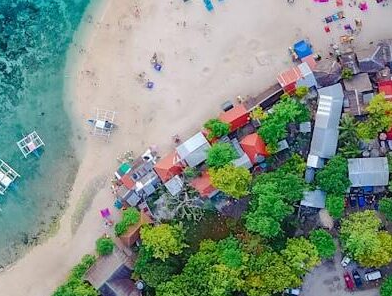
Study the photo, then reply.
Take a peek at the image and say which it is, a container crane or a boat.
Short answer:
boat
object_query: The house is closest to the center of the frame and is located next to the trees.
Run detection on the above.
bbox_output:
[176,131,211,167]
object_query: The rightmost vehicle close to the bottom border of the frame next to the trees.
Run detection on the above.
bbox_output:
[365,270,385,283]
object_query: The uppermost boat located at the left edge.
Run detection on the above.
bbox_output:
[16,130,47,160]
